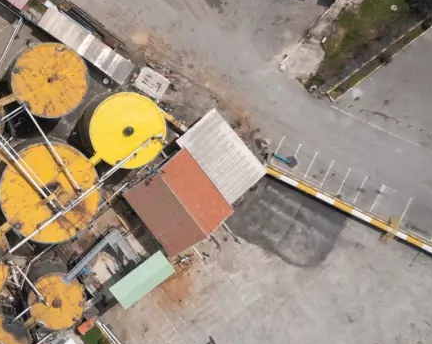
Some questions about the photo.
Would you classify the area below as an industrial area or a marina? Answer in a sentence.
The area seen from above is an industrial area.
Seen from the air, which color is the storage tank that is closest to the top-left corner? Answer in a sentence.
The color of the storage tank that is closest to the top-left corner is orange.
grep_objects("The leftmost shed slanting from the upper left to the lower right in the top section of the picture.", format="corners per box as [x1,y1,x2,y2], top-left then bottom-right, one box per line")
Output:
[37,7,134,84]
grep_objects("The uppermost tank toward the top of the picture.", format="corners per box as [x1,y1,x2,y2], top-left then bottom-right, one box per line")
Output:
[4,41,89,120]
